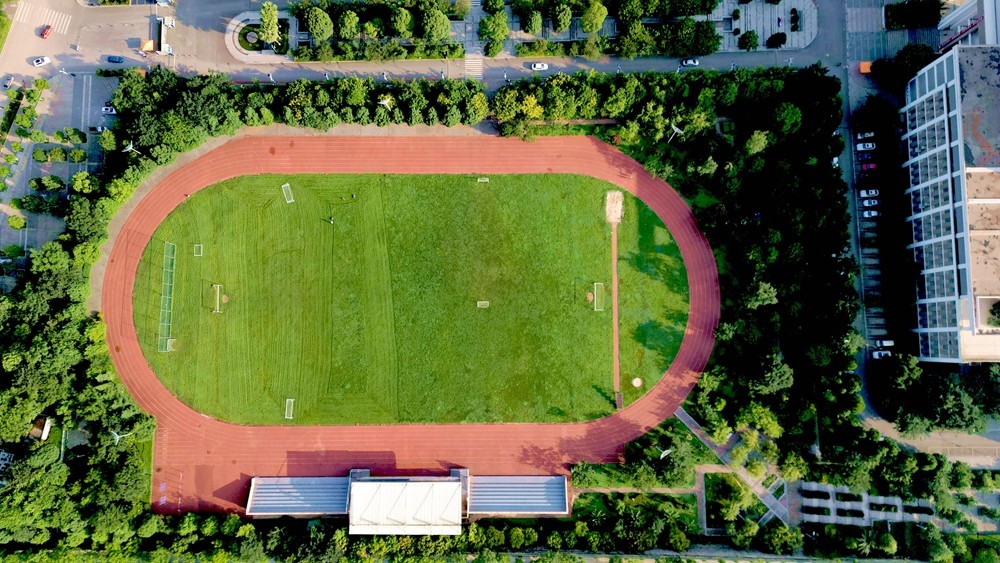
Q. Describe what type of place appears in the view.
sports ground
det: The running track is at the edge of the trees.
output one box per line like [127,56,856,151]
[102,138,721,519]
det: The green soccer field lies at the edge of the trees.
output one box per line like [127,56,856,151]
[133,175,690,425]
